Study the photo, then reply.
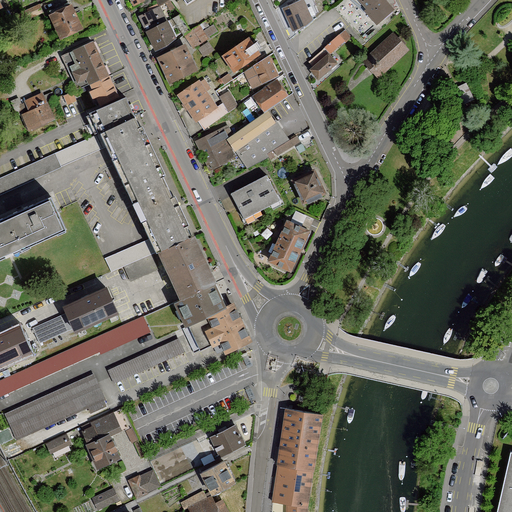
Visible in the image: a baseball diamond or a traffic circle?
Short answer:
traffic circle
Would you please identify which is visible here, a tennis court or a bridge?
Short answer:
bridge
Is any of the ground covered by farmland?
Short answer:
No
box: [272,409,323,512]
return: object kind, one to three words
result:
building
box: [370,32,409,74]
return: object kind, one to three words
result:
house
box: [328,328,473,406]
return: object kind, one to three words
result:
bridge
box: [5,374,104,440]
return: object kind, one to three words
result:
shed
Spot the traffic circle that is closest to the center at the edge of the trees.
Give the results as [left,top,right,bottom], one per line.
[253,292,326,365]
